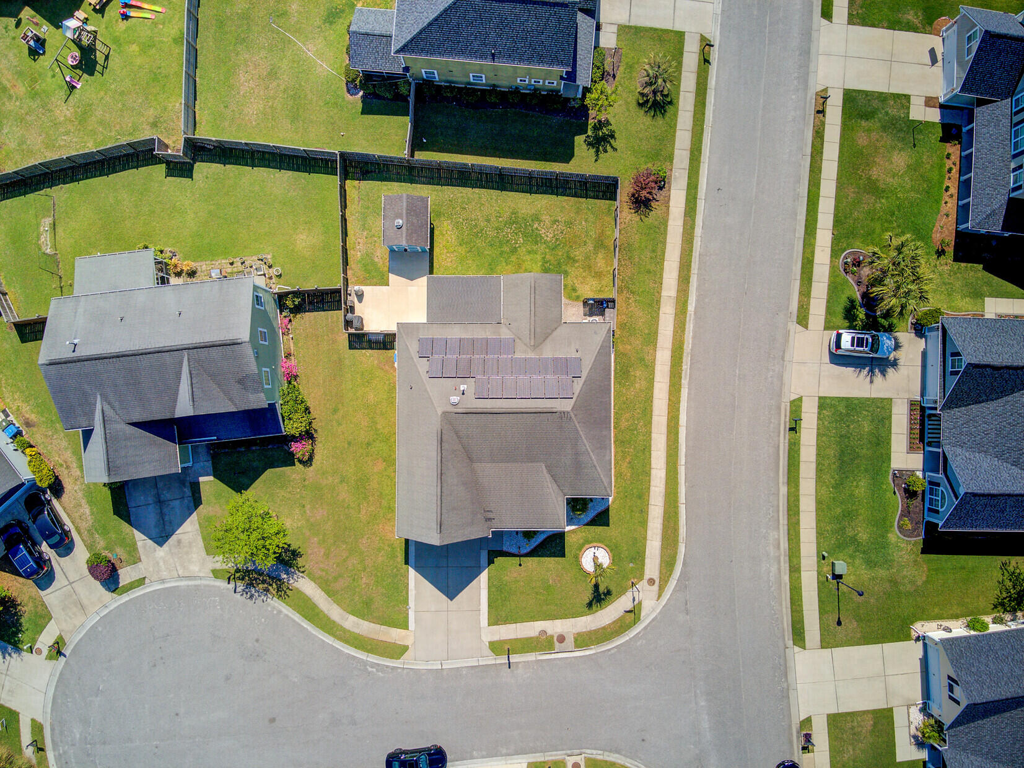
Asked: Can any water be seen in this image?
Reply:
No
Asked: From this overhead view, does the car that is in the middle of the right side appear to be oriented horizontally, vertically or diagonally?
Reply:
horizontally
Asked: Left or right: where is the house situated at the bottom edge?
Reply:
right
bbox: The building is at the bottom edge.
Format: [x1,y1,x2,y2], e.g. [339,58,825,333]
[912,620,1024,768]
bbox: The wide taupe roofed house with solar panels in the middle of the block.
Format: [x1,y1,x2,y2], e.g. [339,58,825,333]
[396,272,613,546]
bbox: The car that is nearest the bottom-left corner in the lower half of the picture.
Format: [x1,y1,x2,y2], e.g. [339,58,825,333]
[0,519,49,581]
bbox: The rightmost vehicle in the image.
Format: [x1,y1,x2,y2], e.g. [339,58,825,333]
[828,329,892,359]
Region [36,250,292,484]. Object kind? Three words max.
house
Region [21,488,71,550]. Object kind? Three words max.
car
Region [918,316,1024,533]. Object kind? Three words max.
house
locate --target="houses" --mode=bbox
[36,250,292,484]
[350,0,599,99]
[0,417,43,510]
[912,620,1024,768]
[918,316,1024,533]
[396,272,613,546]
[936,5,1024,235]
